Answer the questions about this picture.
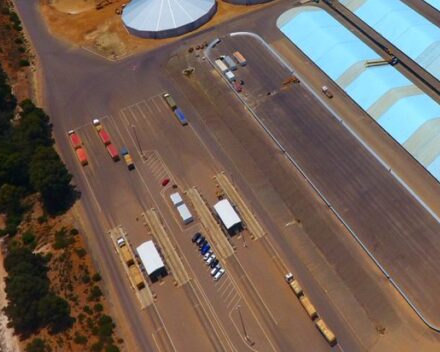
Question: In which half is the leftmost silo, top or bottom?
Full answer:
The top half of the photo is where the leftmost silo is.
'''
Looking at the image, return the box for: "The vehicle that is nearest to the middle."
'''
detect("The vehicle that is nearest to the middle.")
[212,188,229,200]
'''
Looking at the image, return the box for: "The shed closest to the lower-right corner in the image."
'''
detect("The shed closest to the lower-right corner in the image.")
[213,198,243,237]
